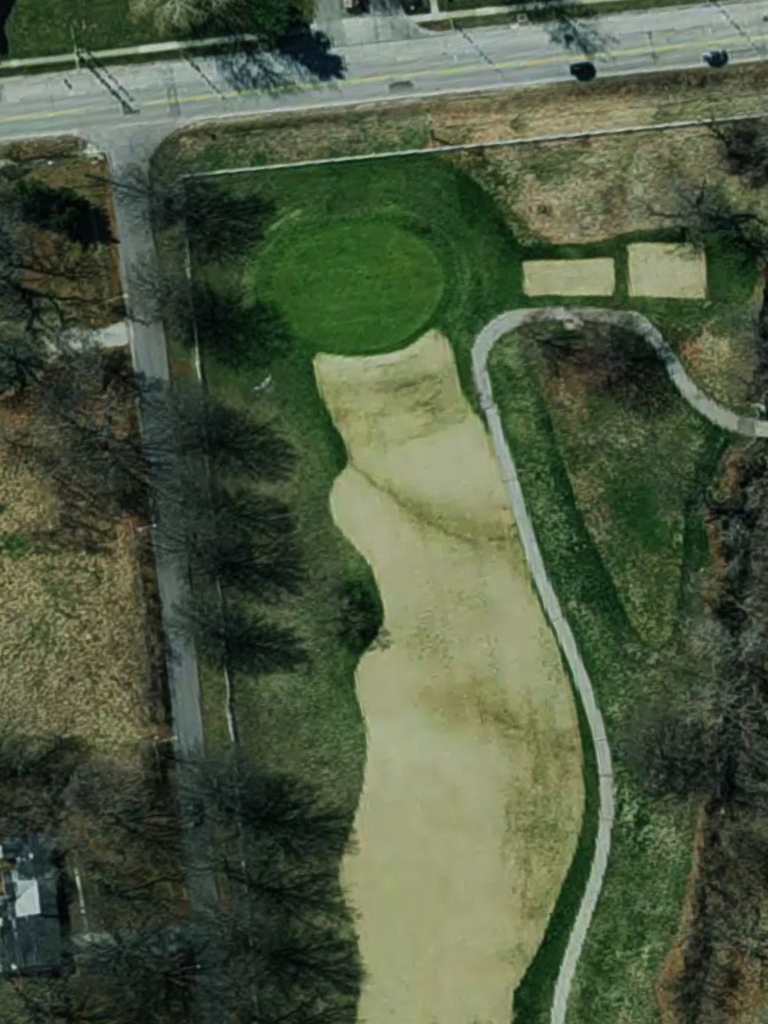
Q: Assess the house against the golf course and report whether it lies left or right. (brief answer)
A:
to its left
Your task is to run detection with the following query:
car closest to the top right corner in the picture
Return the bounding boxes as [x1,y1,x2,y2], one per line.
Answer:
[703,50,730,64]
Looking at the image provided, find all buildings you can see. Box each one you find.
[0,842,61,974]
